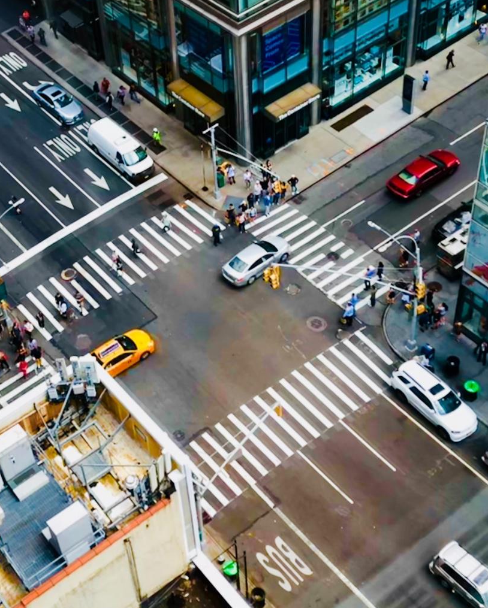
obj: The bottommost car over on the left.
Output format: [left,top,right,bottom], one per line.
[98,330,156,376]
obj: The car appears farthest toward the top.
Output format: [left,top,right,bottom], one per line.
[35,81,85,122]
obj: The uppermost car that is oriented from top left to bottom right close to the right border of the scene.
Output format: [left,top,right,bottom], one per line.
[395,360,484,437]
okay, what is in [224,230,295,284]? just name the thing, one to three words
car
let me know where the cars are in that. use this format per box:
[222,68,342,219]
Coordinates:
[98,330,156,376]
[224,230,295,284]
[390,145,461,196]
[437,196,472,235]
[395,360,484,437]
[35,81,85,122]
[440,546,488,608]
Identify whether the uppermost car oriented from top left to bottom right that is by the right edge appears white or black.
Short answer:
white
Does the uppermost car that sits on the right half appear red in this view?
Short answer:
Yes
